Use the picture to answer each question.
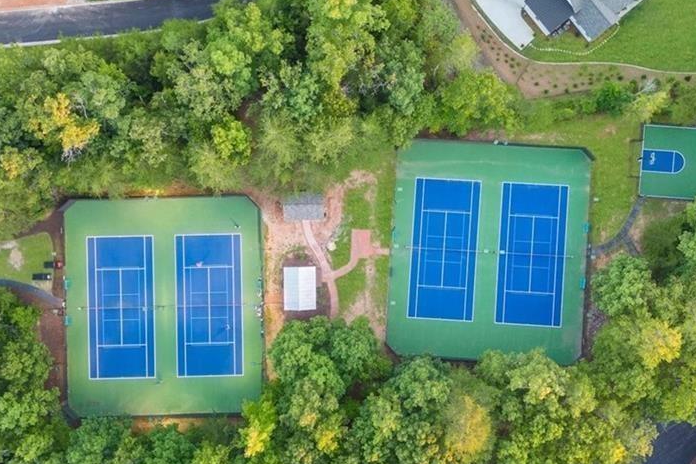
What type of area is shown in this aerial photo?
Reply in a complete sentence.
It's a sports ground.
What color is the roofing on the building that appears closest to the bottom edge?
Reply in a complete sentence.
The roof over the building that appears closest to the bottom edge appears white.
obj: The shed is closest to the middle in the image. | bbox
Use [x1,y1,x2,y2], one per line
[283,196,324,221]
